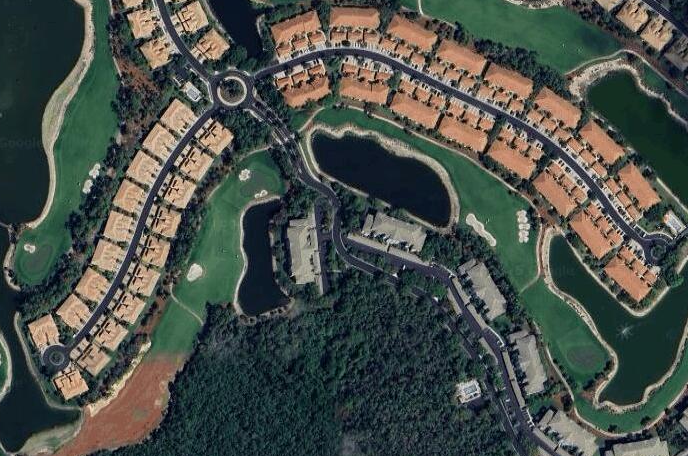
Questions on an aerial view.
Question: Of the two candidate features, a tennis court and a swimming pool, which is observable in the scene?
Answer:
swimming pool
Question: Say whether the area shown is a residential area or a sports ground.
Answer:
residential area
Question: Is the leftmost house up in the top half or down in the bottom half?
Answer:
bottom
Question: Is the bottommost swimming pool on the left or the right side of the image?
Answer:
right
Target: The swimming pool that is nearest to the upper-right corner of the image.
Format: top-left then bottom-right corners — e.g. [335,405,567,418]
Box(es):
[665,210,686,237]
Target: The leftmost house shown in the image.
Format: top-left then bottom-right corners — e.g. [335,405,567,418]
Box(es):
[27,312,59,344]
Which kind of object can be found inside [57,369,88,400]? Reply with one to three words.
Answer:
house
